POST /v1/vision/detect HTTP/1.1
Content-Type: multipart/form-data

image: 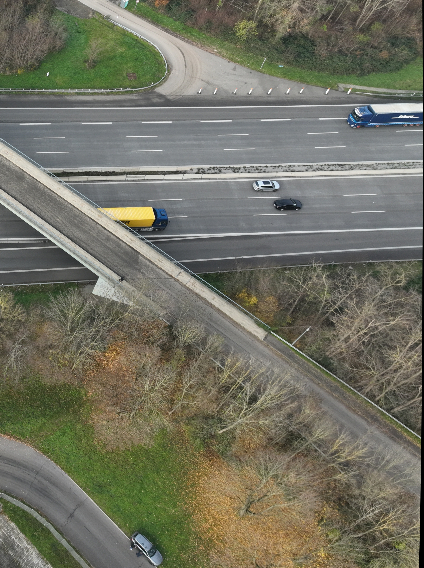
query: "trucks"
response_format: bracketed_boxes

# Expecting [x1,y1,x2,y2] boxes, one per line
[94,205,174,233]
[347,104,424,130]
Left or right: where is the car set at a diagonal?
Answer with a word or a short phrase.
left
